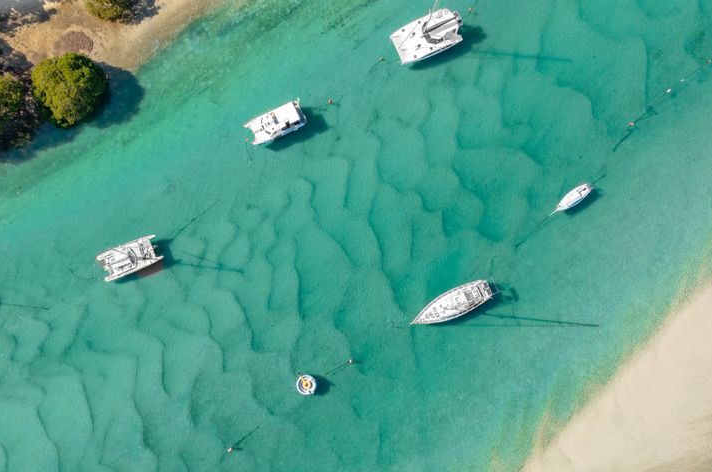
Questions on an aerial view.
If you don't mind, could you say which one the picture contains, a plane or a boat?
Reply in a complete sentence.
It is a boat that can be seen here.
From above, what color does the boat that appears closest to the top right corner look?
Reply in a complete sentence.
The boat that appears closest to the top right corner is white.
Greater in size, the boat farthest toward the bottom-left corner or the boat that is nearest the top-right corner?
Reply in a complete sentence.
The boat farthest toward the bottom-left corner takes up more space than the boat that is nearest the top-right corner.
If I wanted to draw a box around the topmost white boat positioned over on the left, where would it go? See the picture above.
[245,97,312,148]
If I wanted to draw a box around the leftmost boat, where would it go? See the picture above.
[97,234,166,285]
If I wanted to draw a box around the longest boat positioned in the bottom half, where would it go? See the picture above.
[409,279,500,326]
